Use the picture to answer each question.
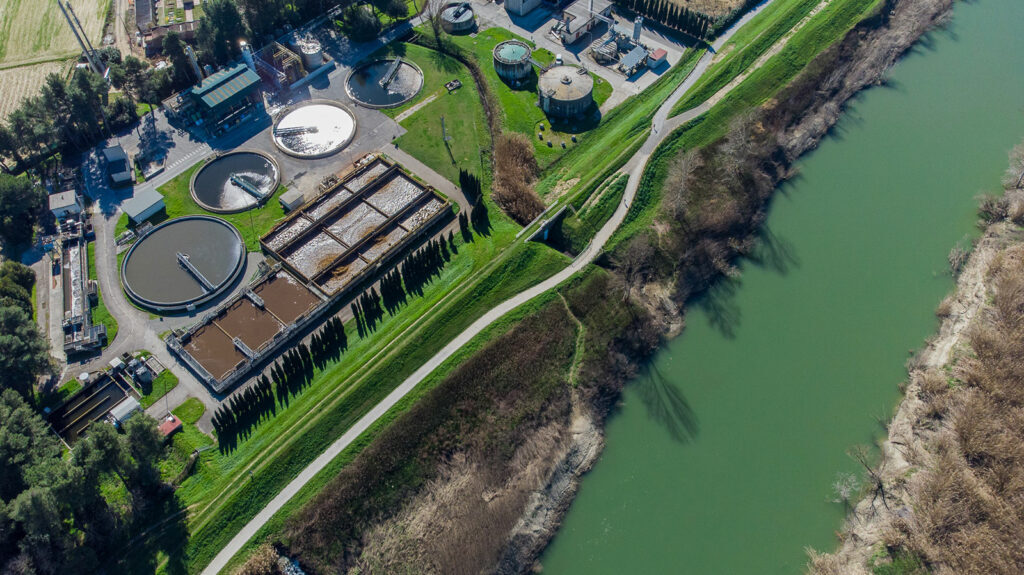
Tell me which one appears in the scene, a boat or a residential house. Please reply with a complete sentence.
There is a residential house in the scene.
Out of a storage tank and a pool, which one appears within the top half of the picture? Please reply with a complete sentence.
There is a storage tank within the top half of the picture.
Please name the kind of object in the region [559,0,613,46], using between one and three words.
building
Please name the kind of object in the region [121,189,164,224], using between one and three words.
building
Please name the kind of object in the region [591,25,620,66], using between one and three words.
storage tank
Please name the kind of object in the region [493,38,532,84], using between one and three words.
storage tank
